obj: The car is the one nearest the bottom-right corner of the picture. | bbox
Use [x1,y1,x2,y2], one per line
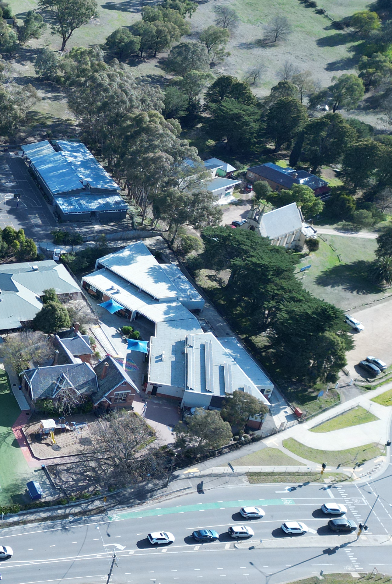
[327,518,357,532]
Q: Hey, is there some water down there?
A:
No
